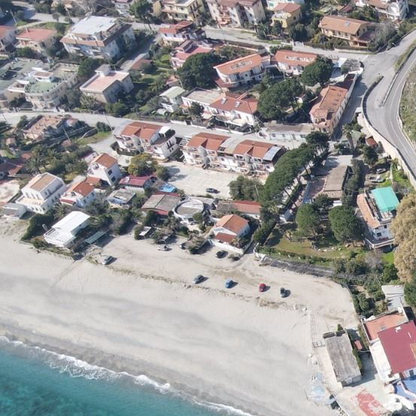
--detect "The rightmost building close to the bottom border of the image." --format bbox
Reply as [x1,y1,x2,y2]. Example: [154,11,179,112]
[362,311,416,414]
